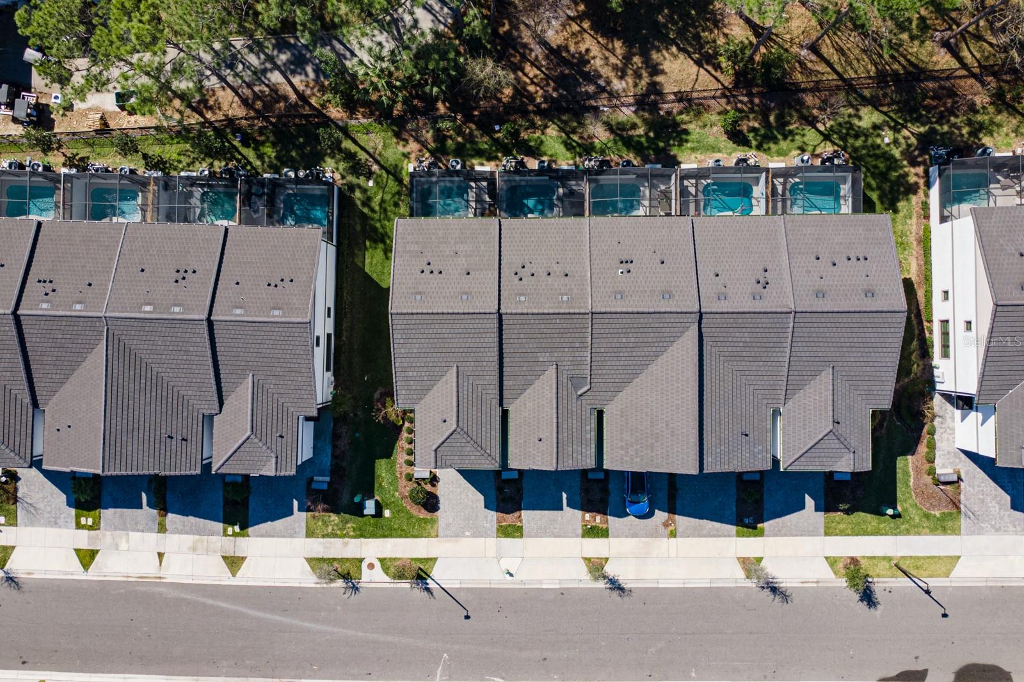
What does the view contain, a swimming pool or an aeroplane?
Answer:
swimming pool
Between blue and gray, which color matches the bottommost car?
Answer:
blue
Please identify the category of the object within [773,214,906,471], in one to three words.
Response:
house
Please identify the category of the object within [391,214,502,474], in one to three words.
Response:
house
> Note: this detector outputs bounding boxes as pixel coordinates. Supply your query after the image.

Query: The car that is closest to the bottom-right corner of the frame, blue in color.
[625,475,654,518]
